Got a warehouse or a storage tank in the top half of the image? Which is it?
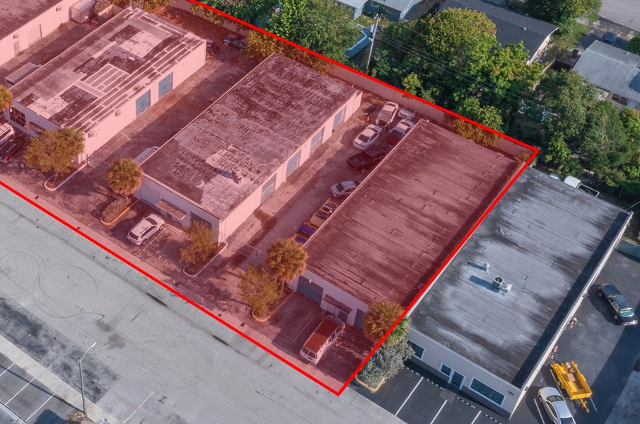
warehouse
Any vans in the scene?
Yes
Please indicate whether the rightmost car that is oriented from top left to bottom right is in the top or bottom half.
bottom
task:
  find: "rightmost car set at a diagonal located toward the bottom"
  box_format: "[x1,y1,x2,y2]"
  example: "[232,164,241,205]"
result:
[598,284,640,326]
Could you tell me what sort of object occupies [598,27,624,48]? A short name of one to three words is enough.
car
